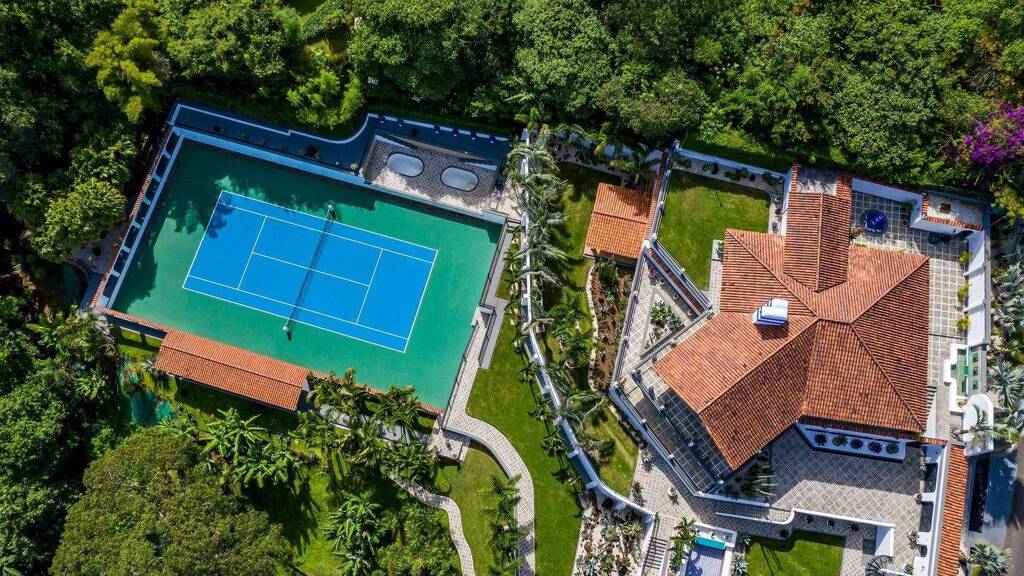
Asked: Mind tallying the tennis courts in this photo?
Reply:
1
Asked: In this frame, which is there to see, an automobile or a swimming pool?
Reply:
swimming pool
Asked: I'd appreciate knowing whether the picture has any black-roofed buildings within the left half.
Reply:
No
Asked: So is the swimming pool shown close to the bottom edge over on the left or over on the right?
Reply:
right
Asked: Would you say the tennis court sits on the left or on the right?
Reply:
left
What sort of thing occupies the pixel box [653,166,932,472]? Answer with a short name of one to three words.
house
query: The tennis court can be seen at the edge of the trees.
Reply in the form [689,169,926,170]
[104,140,503,404]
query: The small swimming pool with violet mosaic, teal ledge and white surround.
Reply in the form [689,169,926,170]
[682,525,740,576]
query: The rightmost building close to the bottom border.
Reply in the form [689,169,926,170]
[930,446,971,576]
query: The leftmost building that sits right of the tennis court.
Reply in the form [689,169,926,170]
[584,182,652,261]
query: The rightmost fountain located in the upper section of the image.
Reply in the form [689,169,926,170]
[864,210,890,233]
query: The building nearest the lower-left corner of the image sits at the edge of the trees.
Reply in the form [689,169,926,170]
[153,328,314,412]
